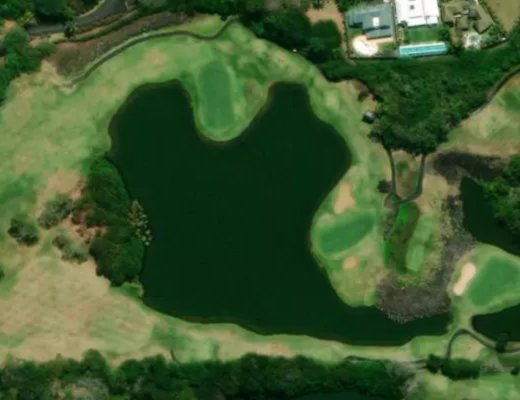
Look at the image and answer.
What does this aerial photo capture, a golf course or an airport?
golf course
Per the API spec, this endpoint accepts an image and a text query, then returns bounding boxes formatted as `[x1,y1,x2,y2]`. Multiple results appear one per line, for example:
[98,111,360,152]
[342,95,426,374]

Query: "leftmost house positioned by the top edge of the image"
[348,5,393,38]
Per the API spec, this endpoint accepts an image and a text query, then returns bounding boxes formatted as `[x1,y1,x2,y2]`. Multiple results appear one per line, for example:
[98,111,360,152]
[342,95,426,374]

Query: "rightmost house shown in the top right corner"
[440,0,496,33]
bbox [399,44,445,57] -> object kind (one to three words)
swimming pool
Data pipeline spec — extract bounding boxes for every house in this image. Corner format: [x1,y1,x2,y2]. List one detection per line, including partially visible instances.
[348,5,393,38]
[396,0,440,27]
[440,0,496,33]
